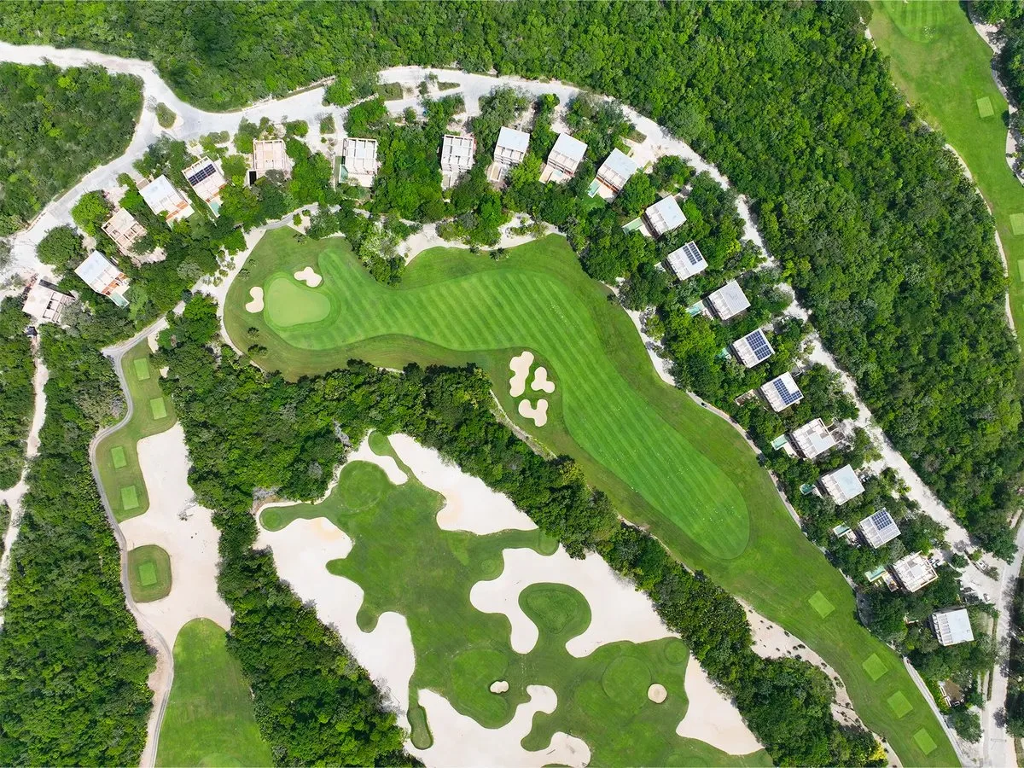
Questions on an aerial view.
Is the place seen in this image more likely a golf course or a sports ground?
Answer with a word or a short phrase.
golf course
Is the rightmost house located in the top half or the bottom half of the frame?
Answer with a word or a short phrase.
bottom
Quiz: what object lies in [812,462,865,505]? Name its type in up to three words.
house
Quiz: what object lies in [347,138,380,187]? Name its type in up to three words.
house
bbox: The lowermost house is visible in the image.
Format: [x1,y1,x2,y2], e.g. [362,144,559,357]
[929,604,974,645]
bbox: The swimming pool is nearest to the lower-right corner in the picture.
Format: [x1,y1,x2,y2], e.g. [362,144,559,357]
[865,564,887,582]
